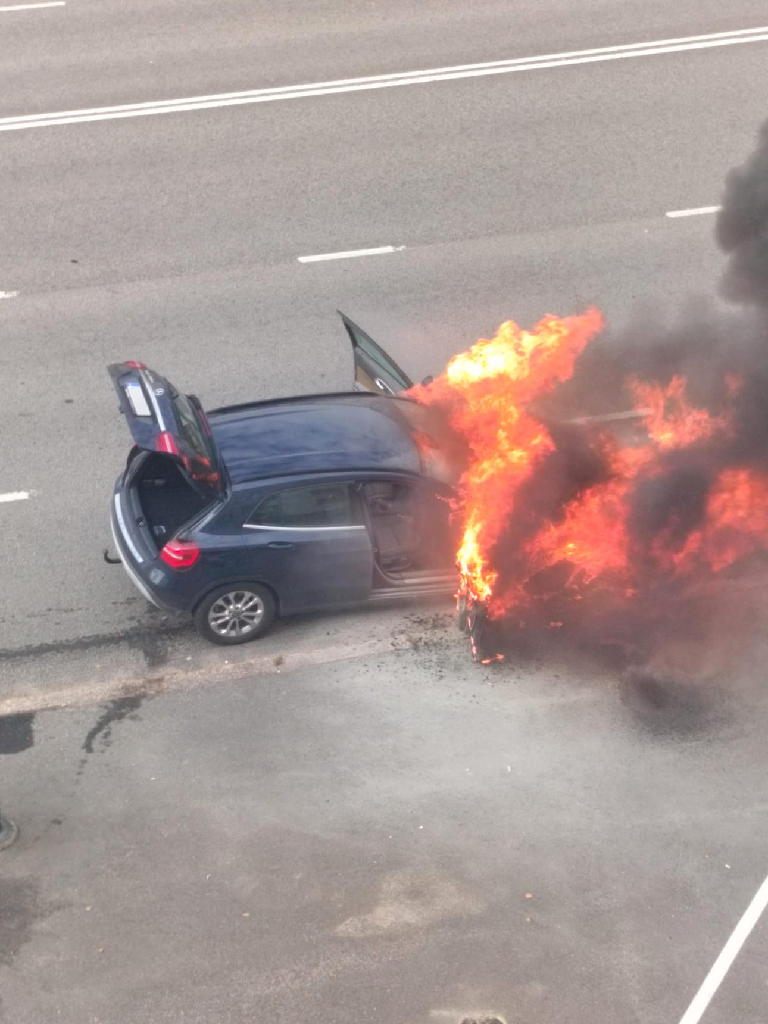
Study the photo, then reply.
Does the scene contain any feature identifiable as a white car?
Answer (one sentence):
No, there isn't any white car down there.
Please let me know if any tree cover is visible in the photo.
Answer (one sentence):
No, the picture contains no tree cover.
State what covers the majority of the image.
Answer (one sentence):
The scene is dominated by paved ground.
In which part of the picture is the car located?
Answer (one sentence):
The car is located in the center region of the scene.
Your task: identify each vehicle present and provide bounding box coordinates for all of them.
[97,306,615,655]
